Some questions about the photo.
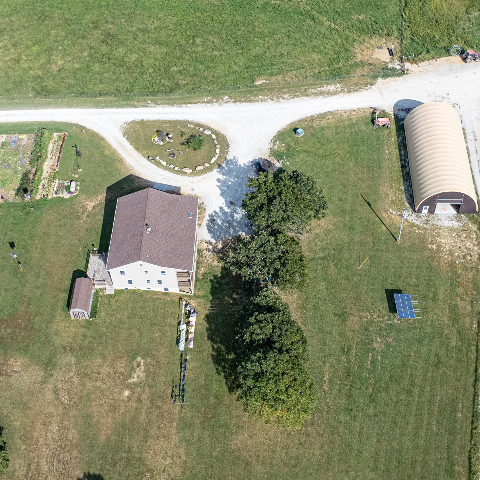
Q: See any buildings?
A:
Yes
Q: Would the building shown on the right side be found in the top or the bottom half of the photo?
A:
top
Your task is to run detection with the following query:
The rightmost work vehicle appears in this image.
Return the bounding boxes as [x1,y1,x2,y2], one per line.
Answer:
[463,47,480,63]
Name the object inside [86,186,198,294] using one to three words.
house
